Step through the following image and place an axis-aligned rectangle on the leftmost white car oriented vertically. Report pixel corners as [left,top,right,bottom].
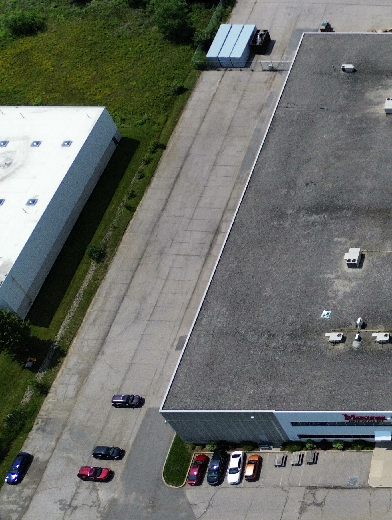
[228,453,246,484]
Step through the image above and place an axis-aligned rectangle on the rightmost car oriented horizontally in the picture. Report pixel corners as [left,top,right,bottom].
[111,393,143,408]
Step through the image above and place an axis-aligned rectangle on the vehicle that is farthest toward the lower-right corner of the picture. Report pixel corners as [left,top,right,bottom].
[245,455,262,482]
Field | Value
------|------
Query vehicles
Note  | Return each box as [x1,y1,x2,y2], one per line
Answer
[90,445,124,461]
[7,454,30,482]
[228,453,246,484]
[111,393,143,408]
[207,452,228,486]
[77,465,112,481]
[188,455,209,485]
[245,455,262,482]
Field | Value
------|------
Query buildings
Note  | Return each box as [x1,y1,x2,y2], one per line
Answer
[160,32,392,451]
[0,106,124,313]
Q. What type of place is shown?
industrial area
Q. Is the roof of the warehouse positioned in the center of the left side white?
Yes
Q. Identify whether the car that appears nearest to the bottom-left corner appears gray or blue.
blue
